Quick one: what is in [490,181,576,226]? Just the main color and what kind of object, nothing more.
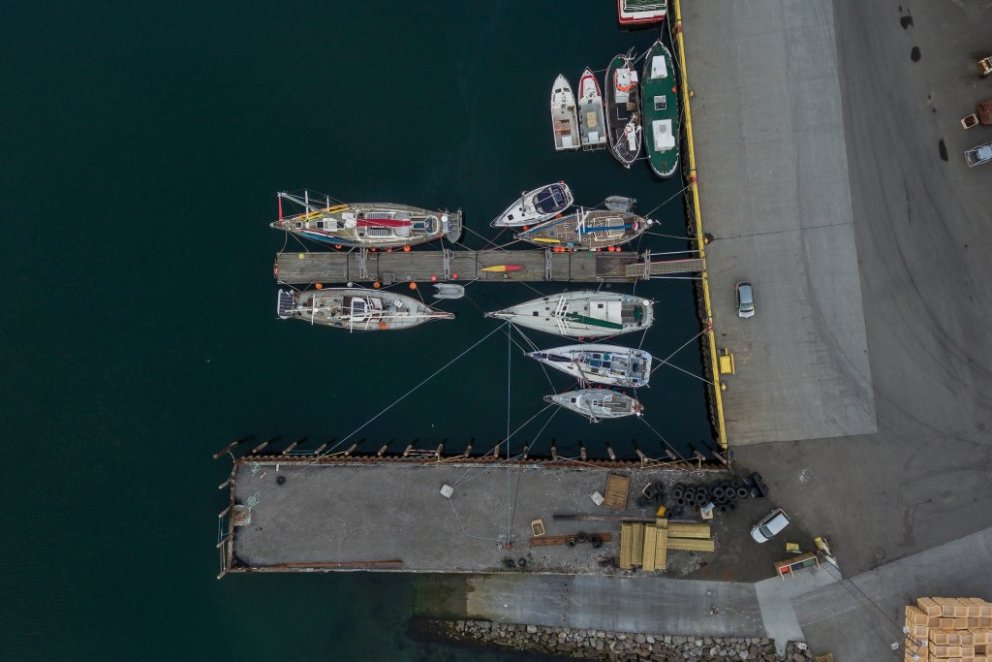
white boat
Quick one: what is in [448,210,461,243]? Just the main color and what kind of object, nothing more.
gray boat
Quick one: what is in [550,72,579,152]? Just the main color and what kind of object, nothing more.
white boat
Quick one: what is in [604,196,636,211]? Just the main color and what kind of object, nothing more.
gray boat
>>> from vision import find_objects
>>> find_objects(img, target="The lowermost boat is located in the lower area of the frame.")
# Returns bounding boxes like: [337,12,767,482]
[548,389,644,424]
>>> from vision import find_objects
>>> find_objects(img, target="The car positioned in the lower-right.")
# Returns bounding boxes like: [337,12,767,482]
[747,506,792,543]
